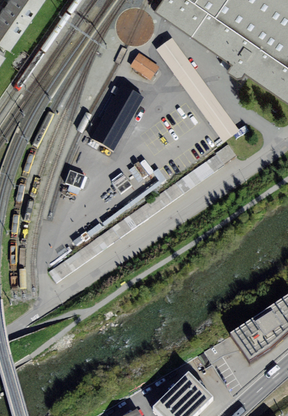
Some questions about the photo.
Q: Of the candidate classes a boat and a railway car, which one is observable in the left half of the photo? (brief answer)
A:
railway car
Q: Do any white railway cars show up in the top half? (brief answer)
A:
Yes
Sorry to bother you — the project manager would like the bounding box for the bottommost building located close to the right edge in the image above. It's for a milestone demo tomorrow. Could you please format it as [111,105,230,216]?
[230,294,288,362]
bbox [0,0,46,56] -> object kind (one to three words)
house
